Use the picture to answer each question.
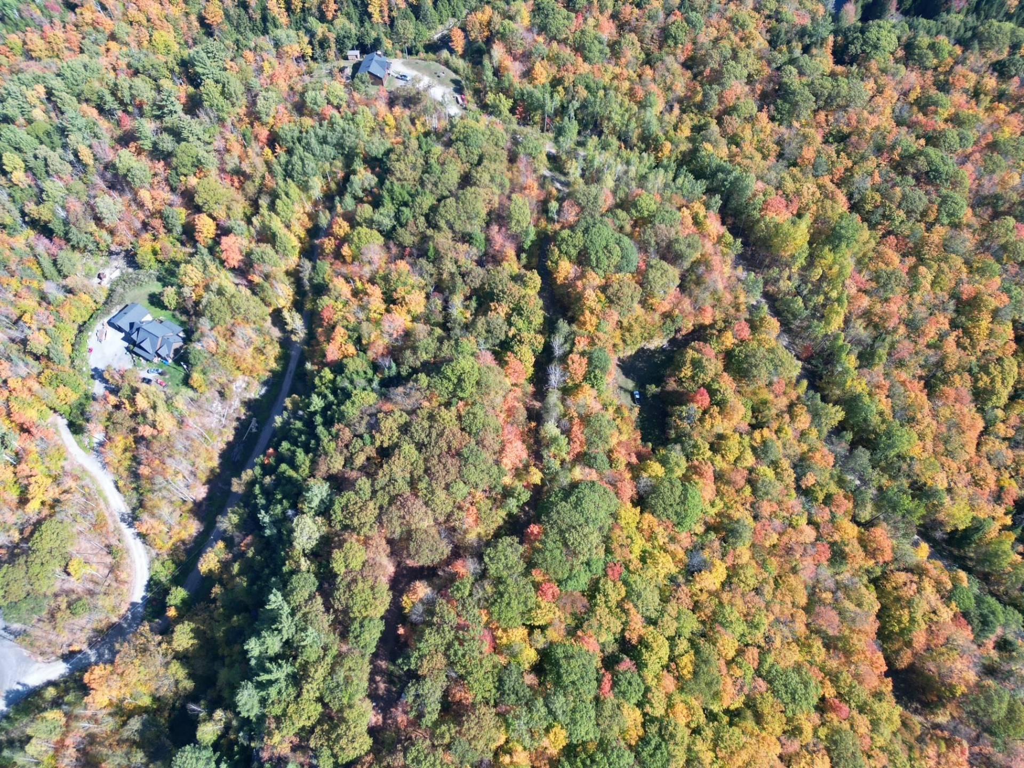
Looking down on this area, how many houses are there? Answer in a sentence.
The number of houses here is 2.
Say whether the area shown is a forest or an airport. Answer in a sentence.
This image shows a forest.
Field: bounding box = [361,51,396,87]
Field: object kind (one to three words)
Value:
house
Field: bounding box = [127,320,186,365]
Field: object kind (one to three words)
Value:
house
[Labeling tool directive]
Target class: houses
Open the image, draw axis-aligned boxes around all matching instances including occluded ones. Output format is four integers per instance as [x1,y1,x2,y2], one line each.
[361,51,396,87]
[127,320,186,365]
